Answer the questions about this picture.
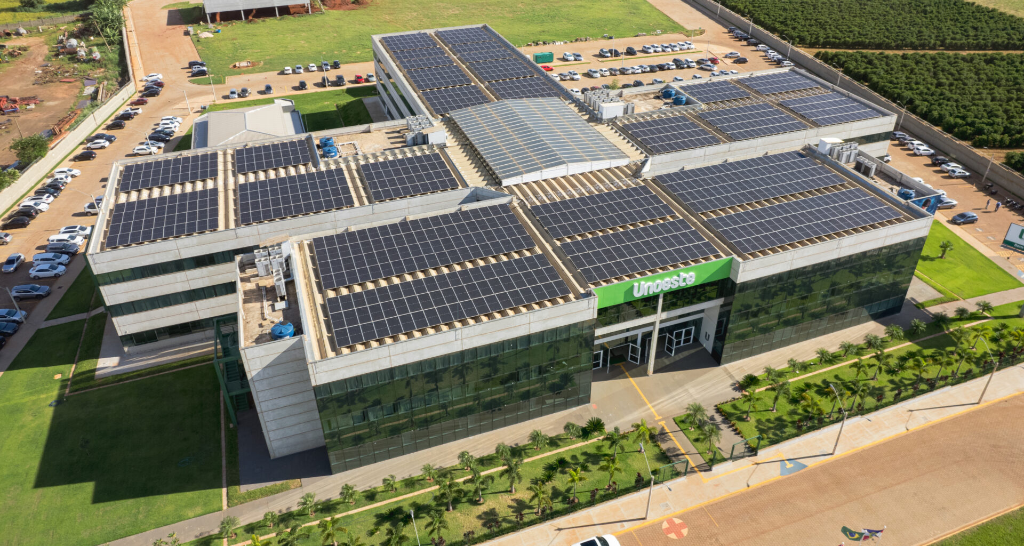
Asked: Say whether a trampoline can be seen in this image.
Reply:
No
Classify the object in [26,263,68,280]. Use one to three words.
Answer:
car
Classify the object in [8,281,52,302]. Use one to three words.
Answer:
car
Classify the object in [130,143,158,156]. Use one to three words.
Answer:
vehicle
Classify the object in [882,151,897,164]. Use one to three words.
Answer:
vehicle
